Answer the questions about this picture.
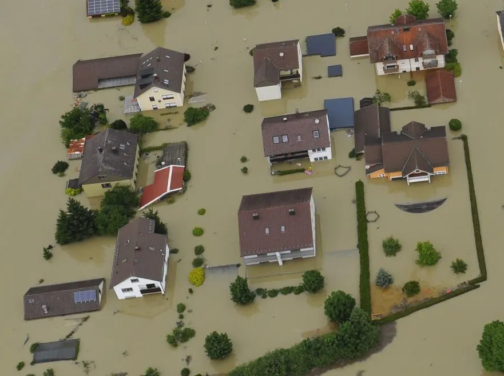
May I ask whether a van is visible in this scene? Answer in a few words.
No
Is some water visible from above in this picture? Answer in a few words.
Yes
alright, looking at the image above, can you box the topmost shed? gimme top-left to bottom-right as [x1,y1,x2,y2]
[87,0,121,18]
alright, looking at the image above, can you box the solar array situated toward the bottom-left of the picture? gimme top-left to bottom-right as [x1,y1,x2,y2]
[75,290,97,303]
